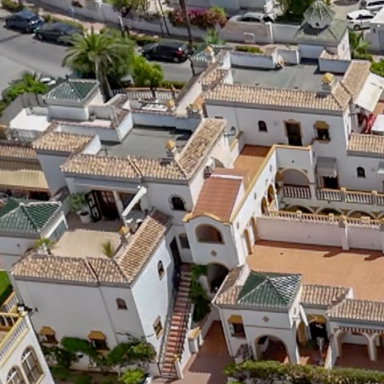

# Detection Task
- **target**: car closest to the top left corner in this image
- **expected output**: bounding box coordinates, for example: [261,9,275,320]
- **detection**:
[0,7,45,31]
